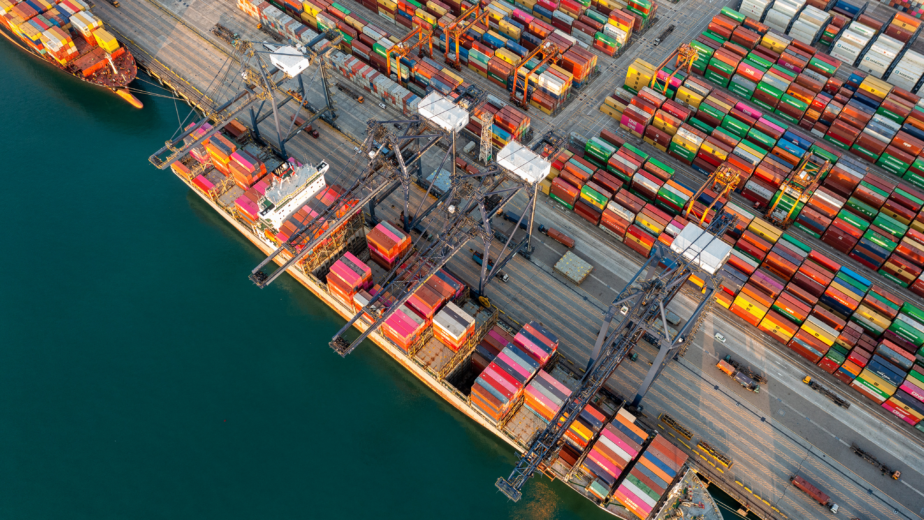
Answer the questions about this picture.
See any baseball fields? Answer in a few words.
No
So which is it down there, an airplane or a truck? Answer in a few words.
truck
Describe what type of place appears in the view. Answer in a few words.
port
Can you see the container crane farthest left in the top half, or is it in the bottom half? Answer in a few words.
top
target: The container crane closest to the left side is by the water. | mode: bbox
[146,27,346,171]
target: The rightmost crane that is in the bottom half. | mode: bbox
[495,197,747,507]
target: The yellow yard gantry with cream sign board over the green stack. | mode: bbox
[763,152,830,227]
